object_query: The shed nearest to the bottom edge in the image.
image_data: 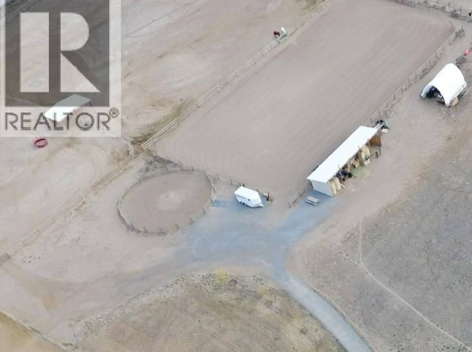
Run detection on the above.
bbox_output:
[307,125,380,197]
